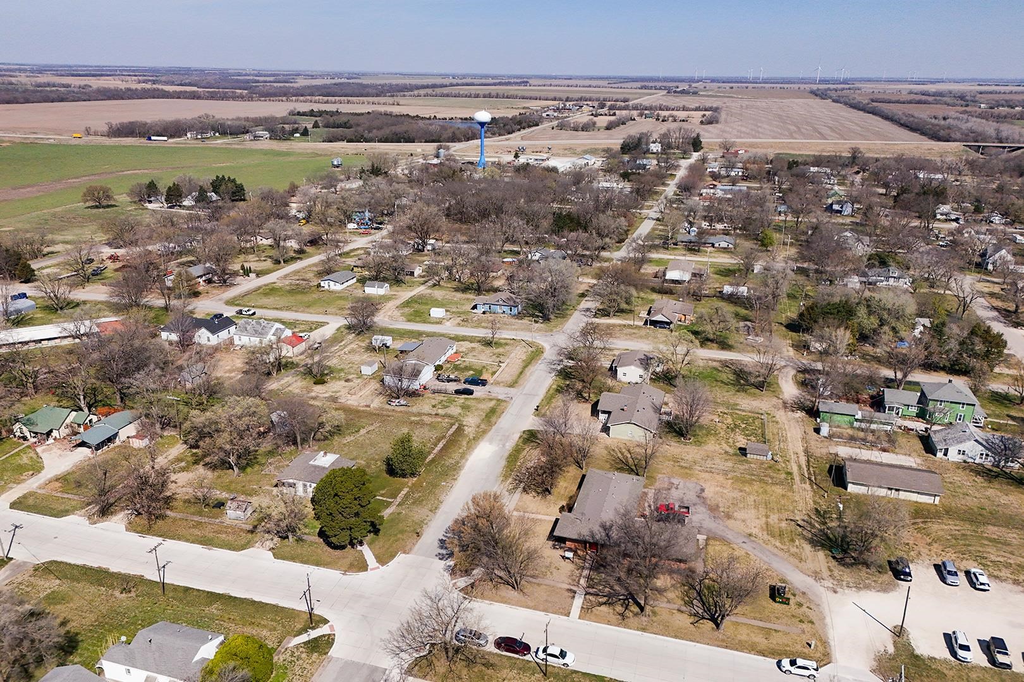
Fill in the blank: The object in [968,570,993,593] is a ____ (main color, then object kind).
white car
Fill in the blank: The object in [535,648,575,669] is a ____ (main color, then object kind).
white car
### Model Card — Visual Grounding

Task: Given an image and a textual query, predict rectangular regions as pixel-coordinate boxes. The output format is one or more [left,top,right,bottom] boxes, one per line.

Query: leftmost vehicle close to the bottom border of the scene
[452,625,489,648]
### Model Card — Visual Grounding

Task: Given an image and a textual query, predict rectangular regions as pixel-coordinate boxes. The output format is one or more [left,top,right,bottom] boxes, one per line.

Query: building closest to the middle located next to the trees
[470,293,528,315]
